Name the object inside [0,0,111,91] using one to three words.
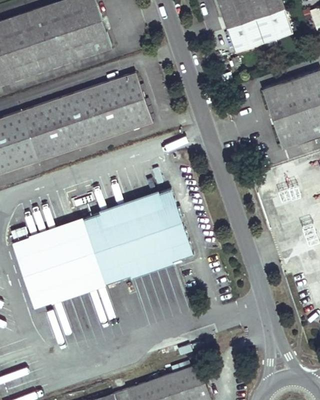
building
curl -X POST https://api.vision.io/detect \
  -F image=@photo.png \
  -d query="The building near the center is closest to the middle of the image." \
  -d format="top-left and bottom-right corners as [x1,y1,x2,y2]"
[84,189,191,286]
